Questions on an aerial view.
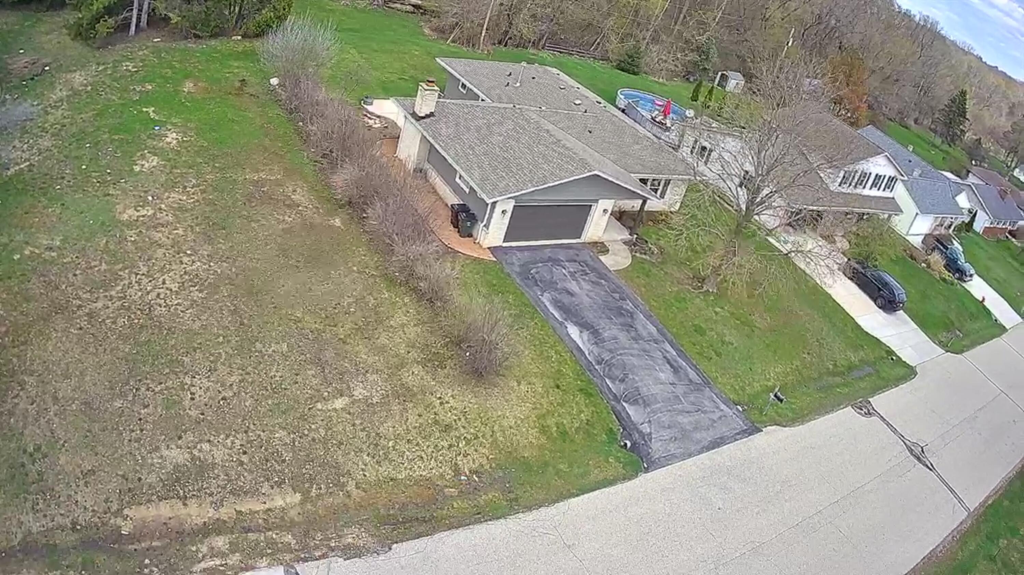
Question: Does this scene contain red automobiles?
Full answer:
No, the picture doesn't show any red automobile.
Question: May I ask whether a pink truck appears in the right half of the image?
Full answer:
No, I can find no pink truck in the right half of the image.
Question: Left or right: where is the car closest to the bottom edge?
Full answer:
The car closest to the bottom edge appears in the right half of the scene.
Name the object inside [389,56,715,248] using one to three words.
house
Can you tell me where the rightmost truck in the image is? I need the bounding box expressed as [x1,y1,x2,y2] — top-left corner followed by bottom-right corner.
[913,228,982,279]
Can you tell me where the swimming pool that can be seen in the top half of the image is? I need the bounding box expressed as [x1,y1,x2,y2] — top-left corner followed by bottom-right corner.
[613,90,701,133]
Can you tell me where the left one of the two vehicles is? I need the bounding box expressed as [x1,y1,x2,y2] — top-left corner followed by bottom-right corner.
[837,257,911,307]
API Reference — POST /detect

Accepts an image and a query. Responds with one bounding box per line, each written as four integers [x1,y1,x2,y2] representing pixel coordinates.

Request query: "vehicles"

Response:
[837,257,911,307]
[913,228,982,279]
